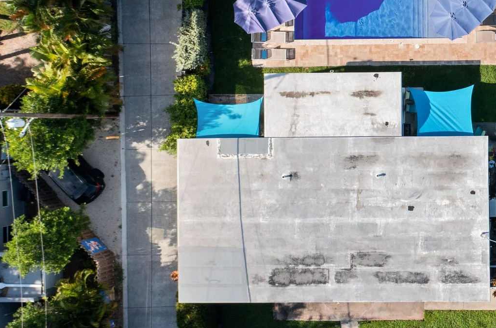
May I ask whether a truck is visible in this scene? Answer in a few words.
No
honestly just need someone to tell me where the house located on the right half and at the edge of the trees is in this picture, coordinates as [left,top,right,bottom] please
[178,70,490,307]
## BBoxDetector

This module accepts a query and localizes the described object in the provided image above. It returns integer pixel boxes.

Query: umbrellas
[233,0,308,33]
[431,0,496,40]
